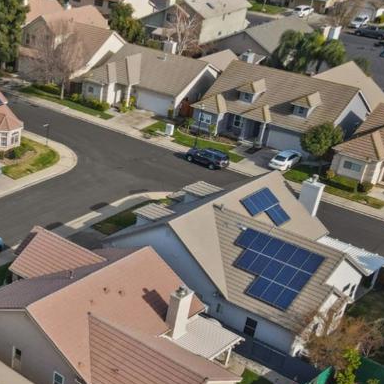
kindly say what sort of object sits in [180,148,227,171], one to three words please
car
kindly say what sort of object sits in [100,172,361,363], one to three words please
house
